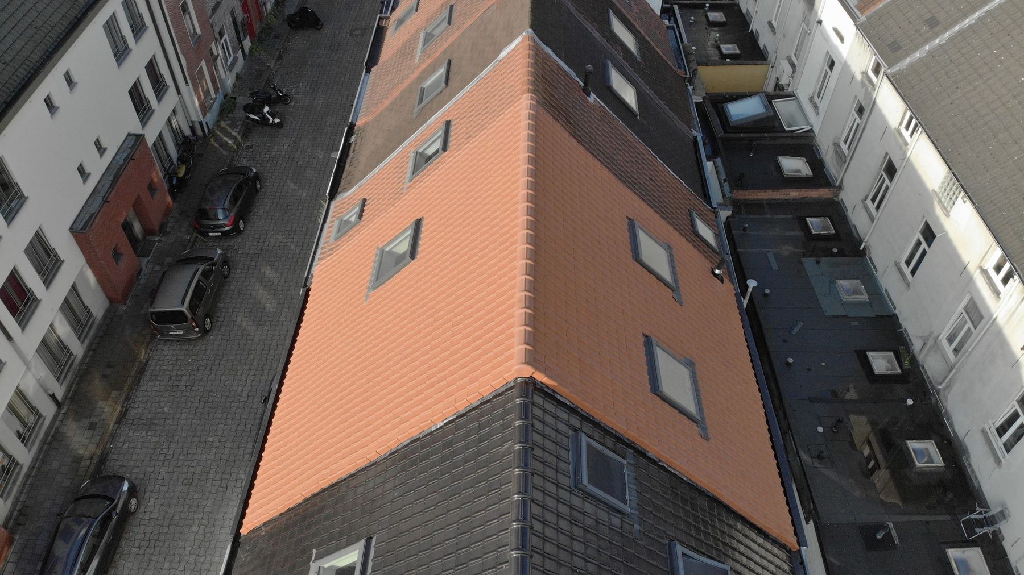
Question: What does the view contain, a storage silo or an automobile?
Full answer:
It is an automobile that can be seen here.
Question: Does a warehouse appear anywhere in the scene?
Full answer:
No, the frame has no warehouse in it.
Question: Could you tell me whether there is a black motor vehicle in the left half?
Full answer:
Yes, I can see a black motor vehicle in the left half.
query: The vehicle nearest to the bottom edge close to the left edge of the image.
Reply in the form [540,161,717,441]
[23,467,140,575]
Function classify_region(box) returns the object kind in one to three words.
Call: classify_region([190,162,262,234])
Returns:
car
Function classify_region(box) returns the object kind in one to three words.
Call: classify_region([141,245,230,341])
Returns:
car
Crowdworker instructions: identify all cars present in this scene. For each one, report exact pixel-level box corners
[141,245,230,341]
[23,467,140,575]
[190,162,262,234]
